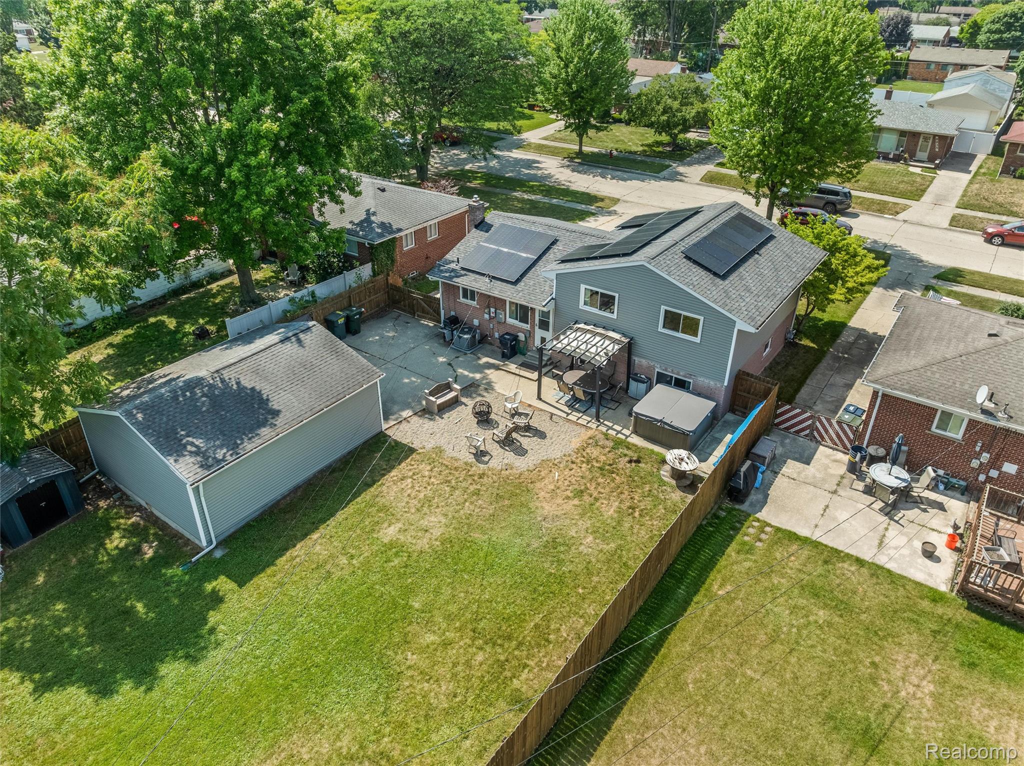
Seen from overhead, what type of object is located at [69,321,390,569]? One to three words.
building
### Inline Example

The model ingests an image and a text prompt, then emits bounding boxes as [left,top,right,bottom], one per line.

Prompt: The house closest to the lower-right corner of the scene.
[856,293,1024,489]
